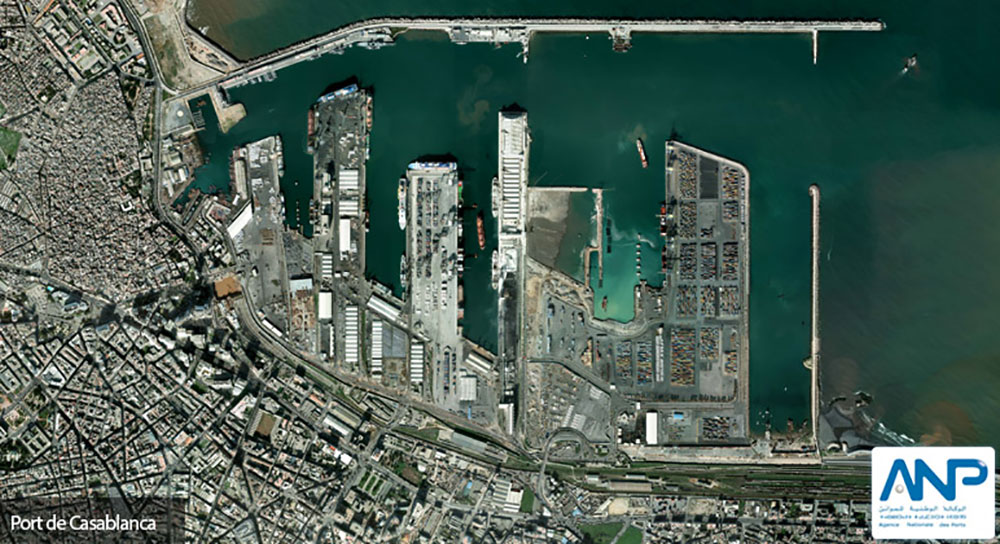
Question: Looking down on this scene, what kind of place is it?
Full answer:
It's a port.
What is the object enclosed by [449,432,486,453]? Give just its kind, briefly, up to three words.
building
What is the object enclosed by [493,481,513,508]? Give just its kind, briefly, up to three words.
building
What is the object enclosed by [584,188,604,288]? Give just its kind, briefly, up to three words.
pier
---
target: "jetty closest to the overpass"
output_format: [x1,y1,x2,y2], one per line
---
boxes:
[499,111,530,434]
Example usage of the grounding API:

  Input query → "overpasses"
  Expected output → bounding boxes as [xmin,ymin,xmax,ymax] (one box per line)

[538,427,612,508]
